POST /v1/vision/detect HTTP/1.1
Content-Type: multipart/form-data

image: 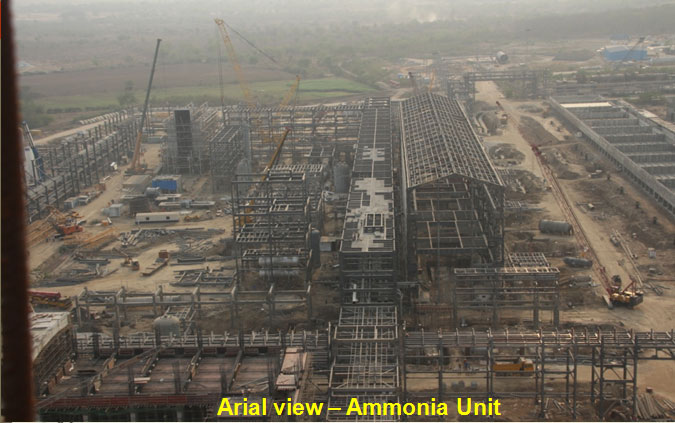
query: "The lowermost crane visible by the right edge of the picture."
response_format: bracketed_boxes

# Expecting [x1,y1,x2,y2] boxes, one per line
[532,141,648,304]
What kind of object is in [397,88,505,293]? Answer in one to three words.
shed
